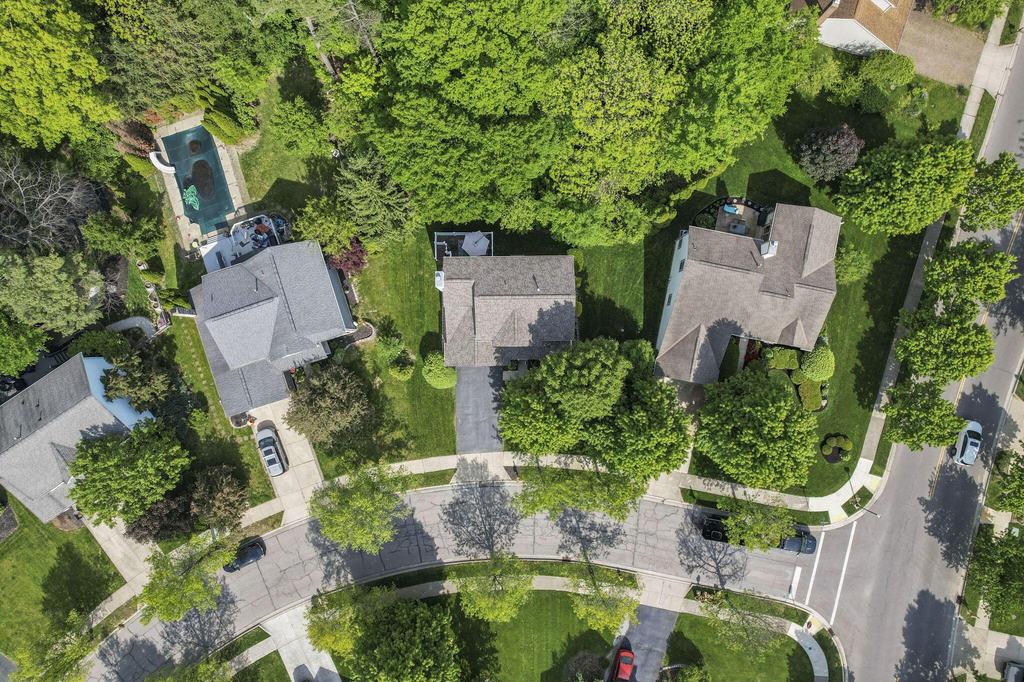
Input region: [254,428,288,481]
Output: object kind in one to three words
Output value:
car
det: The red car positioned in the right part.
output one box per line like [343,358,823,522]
[610,651,634,682]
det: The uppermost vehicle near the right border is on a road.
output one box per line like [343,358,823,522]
[952,417,985,466]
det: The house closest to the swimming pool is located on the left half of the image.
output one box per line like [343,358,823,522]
[169,240,355,418]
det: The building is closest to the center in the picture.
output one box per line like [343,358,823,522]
[435,255,575,366]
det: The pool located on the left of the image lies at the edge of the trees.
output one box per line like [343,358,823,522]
[152,116,260,262]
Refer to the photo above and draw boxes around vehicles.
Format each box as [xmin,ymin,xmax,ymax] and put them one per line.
[254,428,288,481]
[952,417,985,466]
[610,651,634,682]
[1002,659,1024,682]
[697,518,747,546]
[750,530,814,557]
[222,539,269,571]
